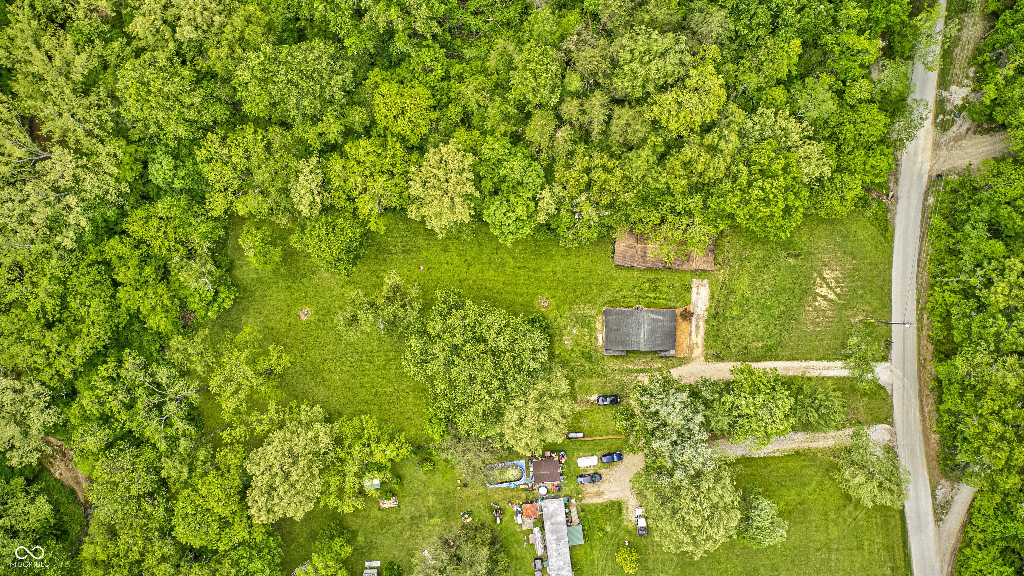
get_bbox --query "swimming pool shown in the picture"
[484,466,526,486]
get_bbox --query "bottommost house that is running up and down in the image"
[542,495,572,576]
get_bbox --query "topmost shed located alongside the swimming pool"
[533,458,561,484]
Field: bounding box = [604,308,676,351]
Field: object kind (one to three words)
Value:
house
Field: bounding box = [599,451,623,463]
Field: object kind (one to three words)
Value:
vehicle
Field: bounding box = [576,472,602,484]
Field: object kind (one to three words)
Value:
vehicle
